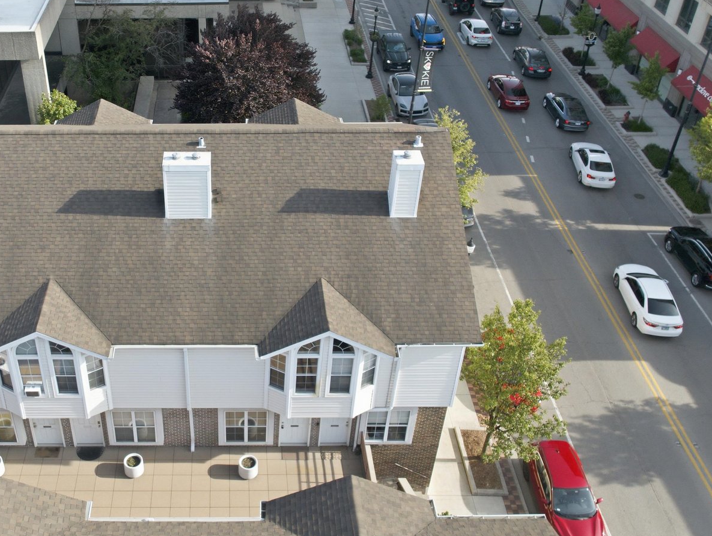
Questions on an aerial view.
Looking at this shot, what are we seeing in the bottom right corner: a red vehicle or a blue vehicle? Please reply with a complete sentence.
What appears in the bottom right corner is a red vehicle.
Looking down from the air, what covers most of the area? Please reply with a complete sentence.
The bulk of the photo consists of buildings.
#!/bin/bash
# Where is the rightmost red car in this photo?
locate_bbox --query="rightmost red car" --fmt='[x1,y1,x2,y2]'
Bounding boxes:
[519,439,607,536]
